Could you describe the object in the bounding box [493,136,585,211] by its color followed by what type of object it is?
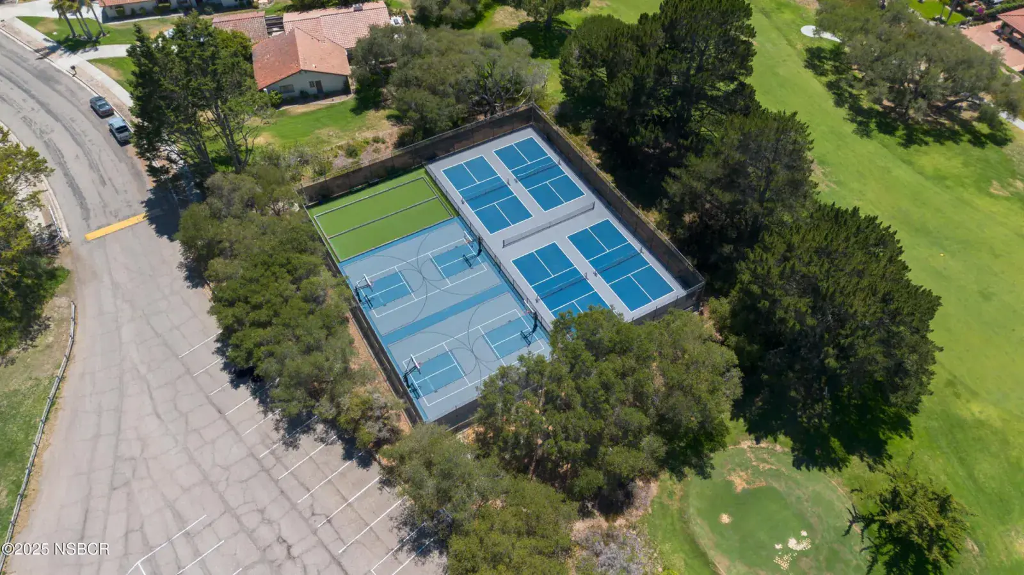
blue sports court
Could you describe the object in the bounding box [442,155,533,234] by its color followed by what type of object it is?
blue sports court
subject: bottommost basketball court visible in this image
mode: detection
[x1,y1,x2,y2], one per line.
[388,291,553,414]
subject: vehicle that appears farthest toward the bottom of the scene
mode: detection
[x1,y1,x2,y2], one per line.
[103,114,134,142]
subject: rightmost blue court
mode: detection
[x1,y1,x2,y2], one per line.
[567,218,675,312]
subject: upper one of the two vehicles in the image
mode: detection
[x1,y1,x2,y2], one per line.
[87,94,112,115]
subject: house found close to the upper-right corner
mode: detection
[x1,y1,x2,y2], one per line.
[992,9,1024,45]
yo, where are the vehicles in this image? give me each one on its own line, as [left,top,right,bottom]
[87,94,112,115]
[103,114,134,142]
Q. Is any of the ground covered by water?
No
